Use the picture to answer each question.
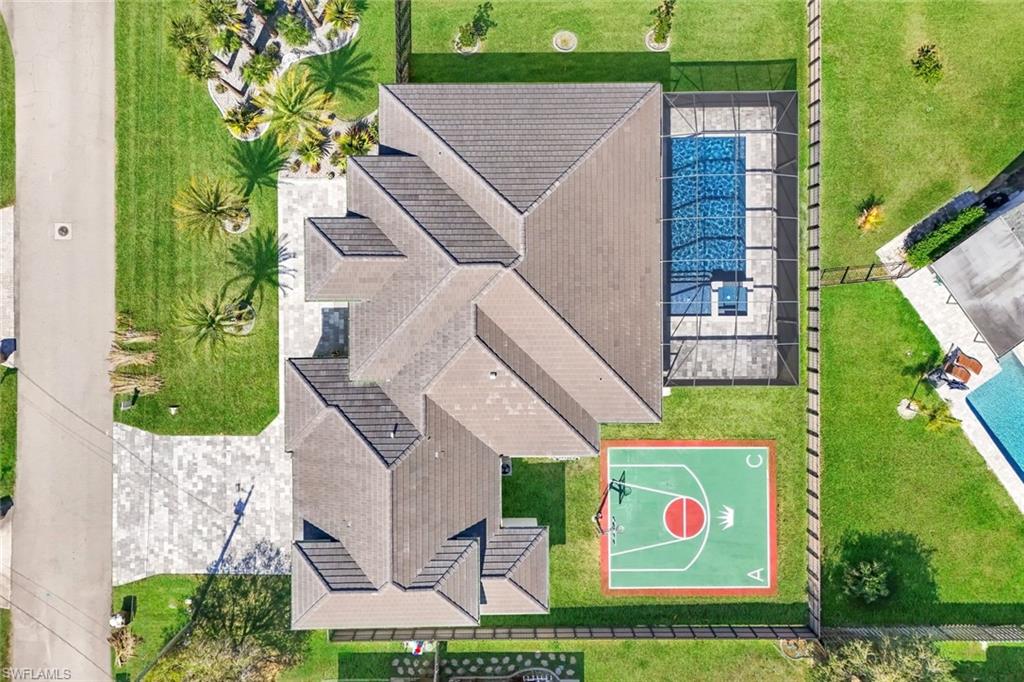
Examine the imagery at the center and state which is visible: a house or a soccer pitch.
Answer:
house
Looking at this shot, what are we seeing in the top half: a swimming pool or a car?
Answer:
swimming pool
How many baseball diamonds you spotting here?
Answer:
0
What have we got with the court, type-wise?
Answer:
basketball court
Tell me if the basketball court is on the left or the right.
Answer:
right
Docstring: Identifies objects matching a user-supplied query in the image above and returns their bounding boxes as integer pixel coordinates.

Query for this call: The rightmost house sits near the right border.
[929,173,1024,358]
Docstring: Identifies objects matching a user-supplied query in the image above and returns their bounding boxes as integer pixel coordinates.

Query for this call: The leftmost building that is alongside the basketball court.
[284,83,663,630]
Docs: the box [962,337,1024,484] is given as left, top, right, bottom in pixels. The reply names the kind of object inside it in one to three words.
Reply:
swimming pool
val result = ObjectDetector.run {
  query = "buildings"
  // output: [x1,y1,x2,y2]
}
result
[929,173,1024,358]
[284,83,663,630]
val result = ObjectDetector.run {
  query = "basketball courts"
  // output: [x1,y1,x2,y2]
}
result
[601,440,777,596]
